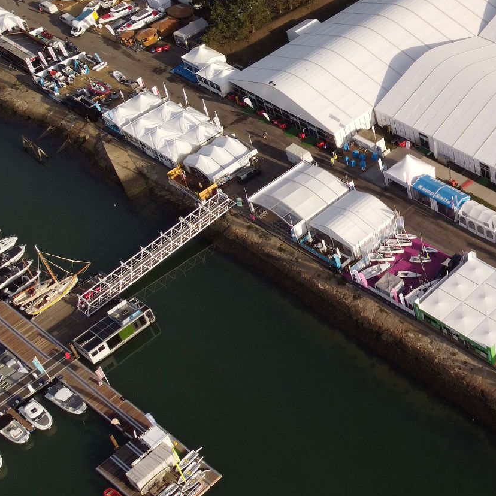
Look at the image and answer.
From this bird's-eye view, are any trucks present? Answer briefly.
Yes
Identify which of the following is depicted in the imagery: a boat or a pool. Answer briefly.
boat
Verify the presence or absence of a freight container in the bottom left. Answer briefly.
No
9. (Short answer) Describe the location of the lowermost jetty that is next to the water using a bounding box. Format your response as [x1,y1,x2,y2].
[95,421,223,496]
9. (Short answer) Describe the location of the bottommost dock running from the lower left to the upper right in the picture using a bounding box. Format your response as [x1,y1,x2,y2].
[0,347,81,409]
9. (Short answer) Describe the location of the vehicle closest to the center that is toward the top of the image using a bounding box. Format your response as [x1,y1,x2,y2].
[234,164,263,184]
